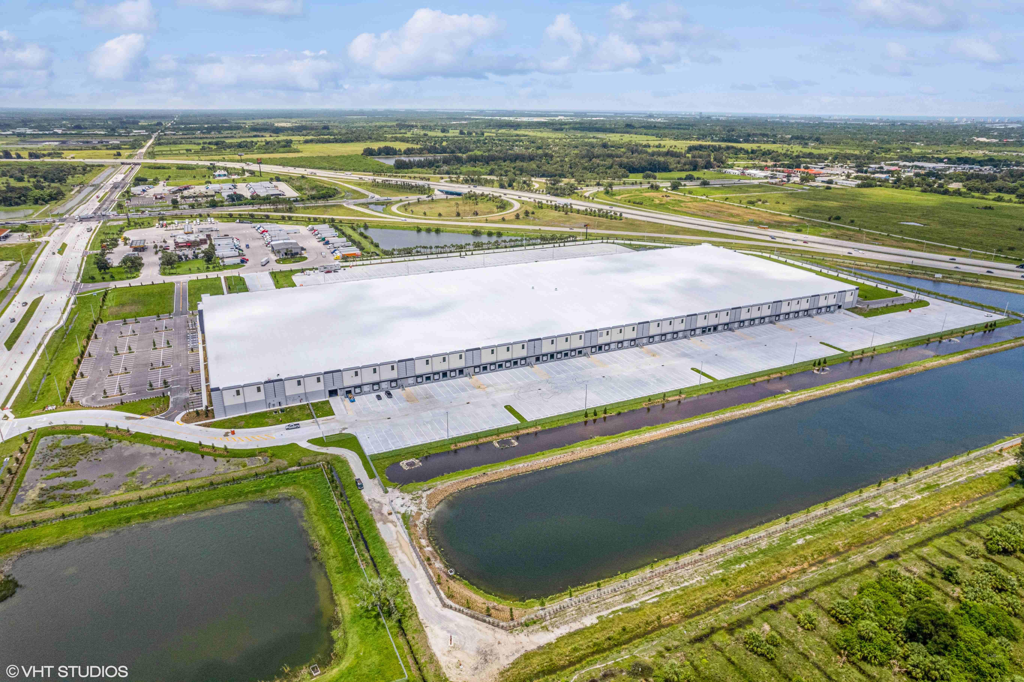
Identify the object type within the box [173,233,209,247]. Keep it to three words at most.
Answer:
building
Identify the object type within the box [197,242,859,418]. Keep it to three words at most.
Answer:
warehouse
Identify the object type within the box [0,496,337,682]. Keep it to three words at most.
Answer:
pond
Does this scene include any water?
Yes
